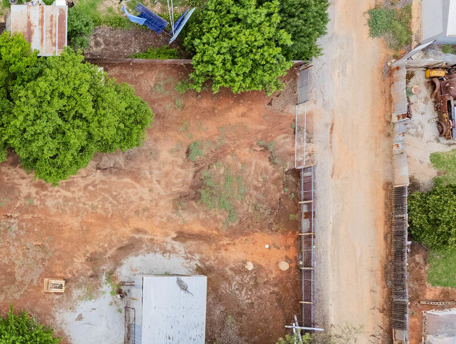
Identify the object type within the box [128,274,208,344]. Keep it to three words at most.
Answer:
shed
